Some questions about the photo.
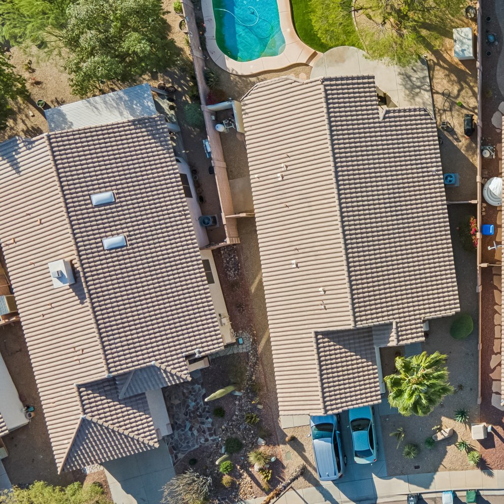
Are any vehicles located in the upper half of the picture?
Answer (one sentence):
No, there's no vehicle to be seen in the upper half of the picture.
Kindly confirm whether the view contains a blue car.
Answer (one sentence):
Yes, a blue car can be made out from above.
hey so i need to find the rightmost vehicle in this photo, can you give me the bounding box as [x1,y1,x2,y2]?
[350,405,379,465]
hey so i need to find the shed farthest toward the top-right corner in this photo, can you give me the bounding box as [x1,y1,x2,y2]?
[453,27,476,63]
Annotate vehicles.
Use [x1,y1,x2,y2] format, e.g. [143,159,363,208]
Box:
[350,405,379,465]
[315,413,349,479]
